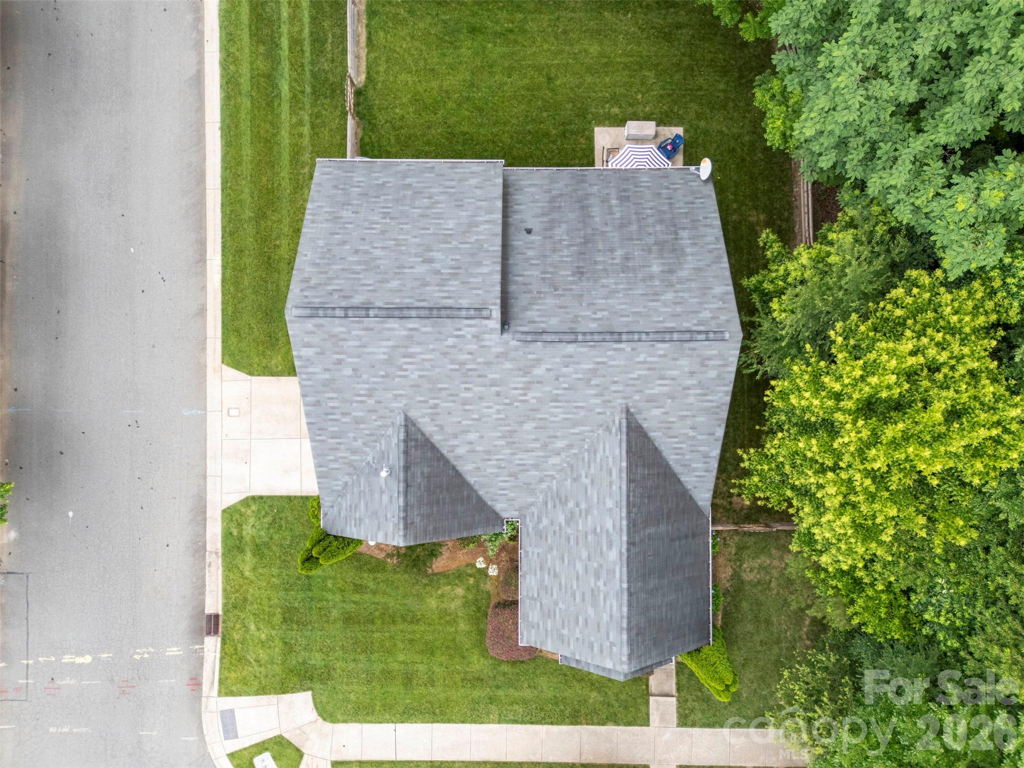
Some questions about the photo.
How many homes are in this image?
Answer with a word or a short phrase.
1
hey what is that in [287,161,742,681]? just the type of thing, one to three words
house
